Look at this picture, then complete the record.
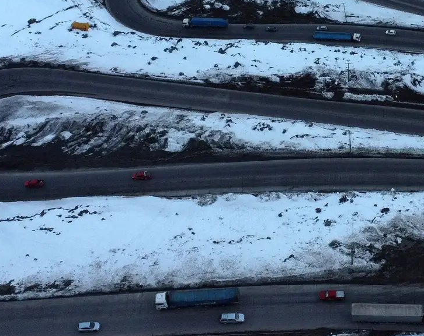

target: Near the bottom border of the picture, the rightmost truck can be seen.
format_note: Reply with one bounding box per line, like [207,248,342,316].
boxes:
[352,300,424,328]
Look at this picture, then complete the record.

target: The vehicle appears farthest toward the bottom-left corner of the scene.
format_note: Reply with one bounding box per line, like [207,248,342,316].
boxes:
[75,321,103,335]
